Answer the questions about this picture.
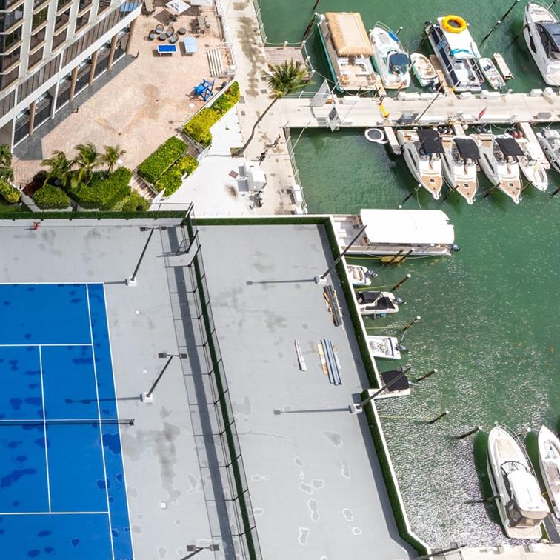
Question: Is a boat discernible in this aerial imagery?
Yes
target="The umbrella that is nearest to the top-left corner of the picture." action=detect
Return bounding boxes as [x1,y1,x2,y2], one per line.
[164,0,191,25]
